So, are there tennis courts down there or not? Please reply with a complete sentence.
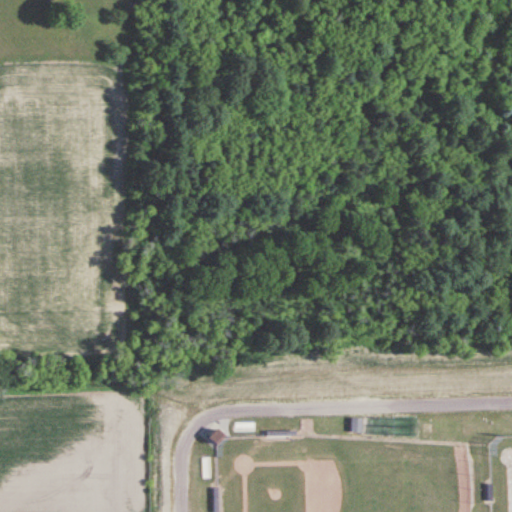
No, there is no tennis court in the image.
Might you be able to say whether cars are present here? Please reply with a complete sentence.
No, I can't see a single car in this photo.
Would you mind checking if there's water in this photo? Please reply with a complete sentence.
No, there is no water in the image.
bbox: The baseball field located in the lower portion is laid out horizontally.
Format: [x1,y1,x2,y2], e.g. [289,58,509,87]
[218,440,472,512]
